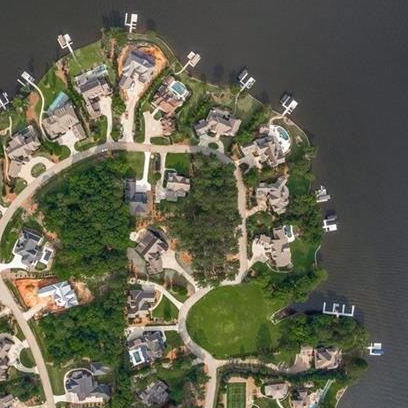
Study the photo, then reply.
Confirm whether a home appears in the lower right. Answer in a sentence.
Yes, you'll find a home in the lower right.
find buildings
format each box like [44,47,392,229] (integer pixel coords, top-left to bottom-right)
[41,103,88,139]
[239,131,286,165]
[137,378,171,408]
[4,125,42,175]
[127,327,167,362]
[166,172,191,202]
[79,77,116,118]
[13,230,42,267]
[150,76,180,116]
[290,388,308,408]
[123,287,156,317]
[124,177,149,215]
[160,117,177,136]
[116,45,157,90]
[35,279,84,309]
[264,383,289,401]
[191,108,243,136]
[253,172,292,216]
[128,224,163,271]
[313,345,340,370]
[0,393,16,408]
[257,227,292,267]
[65,371,112,400]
